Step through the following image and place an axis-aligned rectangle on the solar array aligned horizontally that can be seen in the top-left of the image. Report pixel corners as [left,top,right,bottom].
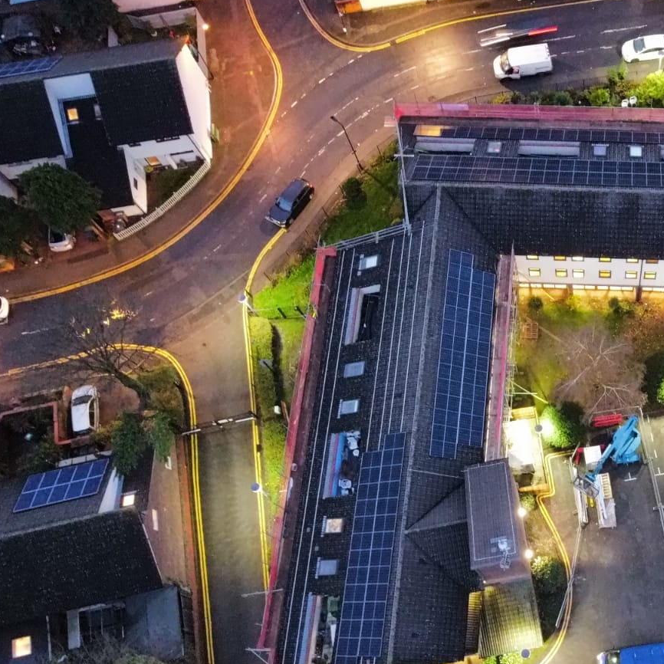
[0,58,59,77]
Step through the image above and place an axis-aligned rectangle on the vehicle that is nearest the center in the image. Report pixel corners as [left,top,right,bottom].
[260,177,314,230]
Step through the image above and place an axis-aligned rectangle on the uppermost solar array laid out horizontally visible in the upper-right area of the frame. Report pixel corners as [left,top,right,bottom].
[439,126,664,146]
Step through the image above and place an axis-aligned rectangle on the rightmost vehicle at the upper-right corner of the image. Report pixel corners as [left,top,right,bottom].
[624,34,664,64]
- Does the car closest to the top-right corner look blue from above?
No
